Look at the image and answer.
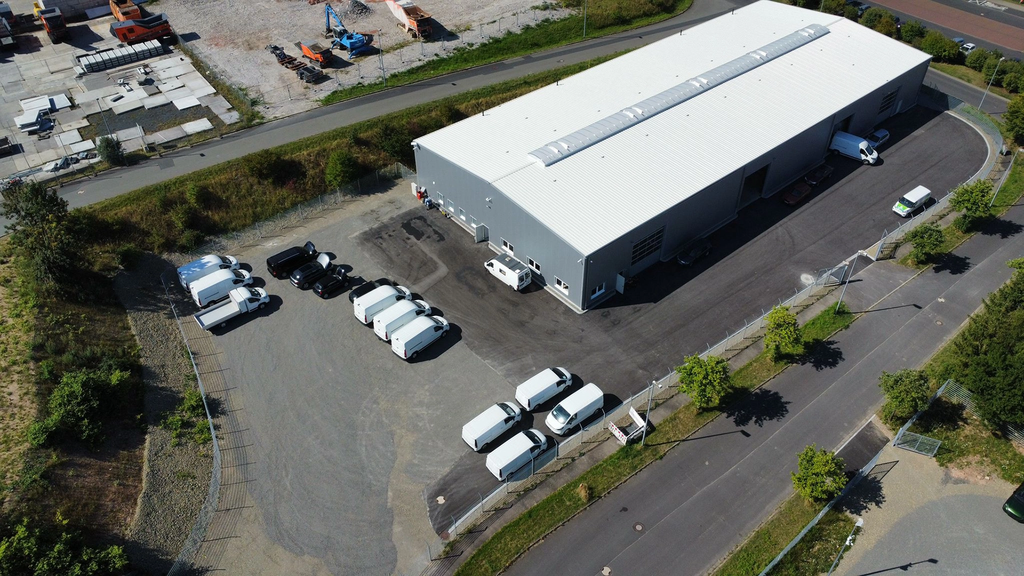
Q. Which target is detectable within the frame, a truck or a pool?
truck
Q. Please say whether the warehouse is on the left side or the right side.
right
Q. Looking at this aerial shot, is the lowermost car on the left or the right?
right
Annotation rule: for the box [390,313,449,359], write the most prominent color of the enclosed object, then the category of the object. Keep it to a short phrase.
white van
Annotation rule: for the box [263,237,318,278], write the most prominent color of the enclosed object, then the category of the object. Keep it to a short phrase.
black van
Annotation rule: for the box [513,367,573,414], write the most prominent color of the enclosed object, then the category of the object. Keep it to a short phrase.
white van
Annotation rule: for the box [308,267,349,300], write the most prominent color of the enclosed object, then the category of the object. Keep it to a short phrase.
black car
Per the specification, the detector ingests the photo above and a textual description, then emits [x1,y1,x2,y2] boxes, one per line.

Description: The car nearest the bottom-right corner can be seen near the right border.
[1002,483,1024,518]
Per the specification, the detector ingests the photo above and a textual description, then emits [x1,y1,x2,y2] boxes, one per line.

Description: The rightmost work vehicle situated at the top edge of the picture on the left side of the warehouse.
[321,0,380,60]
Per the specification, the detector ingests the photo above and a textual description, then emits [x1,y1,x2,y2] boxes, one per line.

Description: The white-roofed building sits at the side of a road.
[412,0,935,316]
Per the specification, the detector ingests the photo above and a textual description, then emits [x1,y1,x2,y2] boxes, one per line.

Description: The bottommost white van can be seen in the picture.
[483,427,549,482]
